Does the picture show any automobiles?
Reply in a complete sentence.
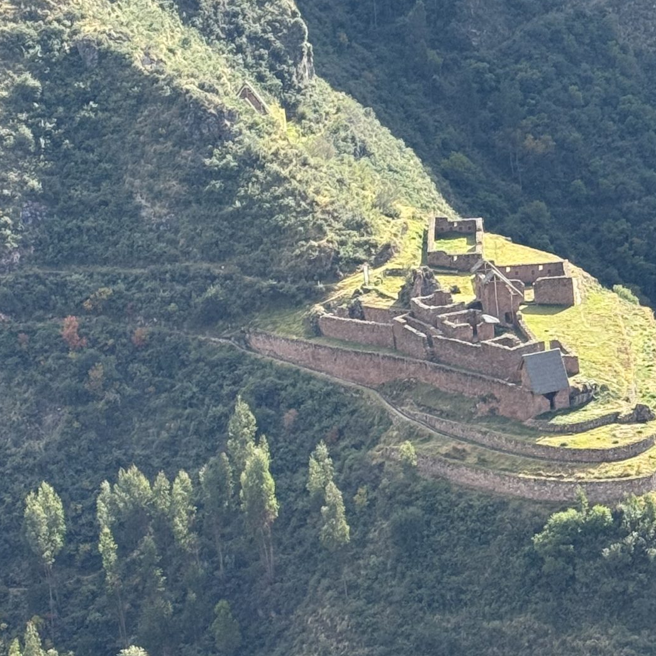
No, there's no automobile here.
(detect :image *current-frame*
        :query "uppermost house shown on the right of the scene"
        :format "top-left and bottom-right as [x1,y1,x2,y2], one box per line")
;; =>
[426,215,485,271]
